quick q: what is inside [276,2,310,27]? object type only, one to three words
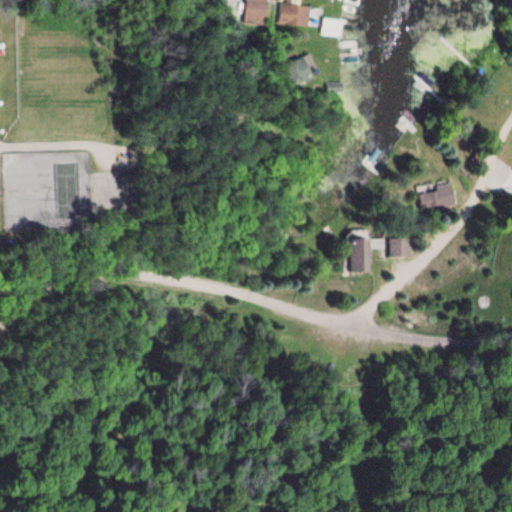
house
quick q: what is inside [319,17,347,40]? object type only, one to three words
building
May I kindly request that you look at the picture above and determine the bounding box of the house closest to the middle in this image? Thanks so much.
[350,238,372,273]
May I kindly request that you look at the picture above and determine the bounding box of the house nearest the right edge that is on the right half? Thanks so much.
[416,178,455,209]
